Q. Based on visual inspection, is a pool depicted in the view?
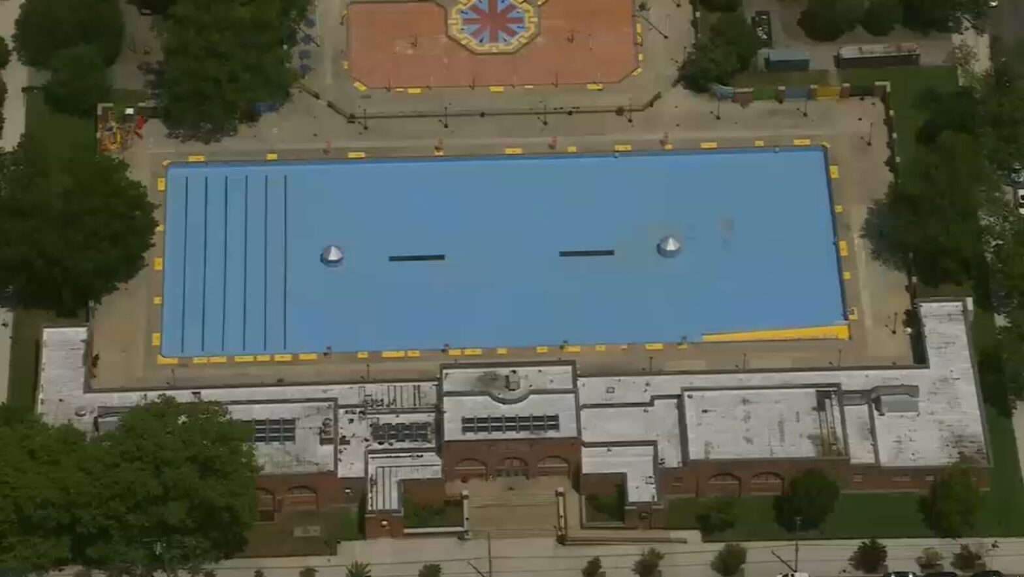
Yes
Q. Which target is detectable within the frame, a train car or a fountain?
fountain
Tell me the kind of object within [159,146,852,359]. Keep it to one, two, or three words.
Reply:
swimming pool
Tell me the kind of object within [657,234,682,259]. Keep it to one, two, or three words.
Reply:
fountain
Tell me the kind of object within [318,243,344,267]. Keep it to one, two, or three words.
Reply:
fountain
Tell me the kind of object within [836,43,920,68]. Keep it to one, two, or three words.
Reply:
trailer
